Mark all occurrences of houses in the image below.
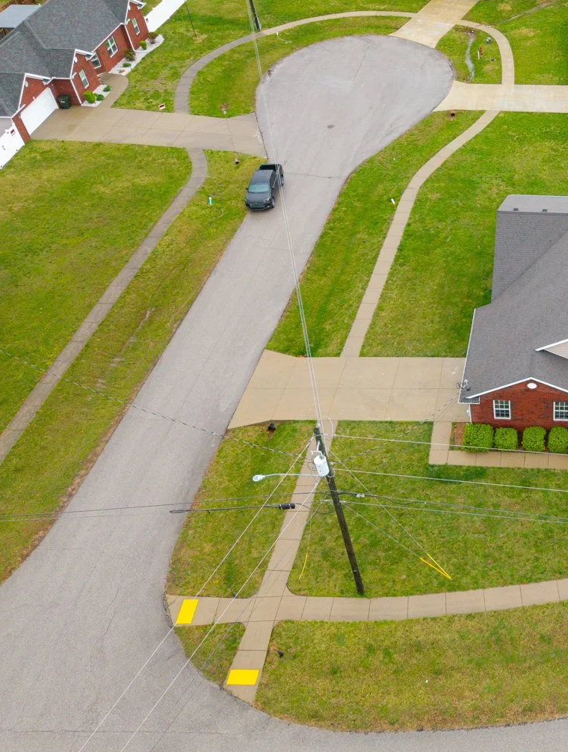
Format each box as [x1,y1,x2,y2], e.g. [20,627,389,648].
[457,194,568,428]
[0,0,151,143]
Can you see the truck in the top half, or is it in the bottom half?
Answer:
top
